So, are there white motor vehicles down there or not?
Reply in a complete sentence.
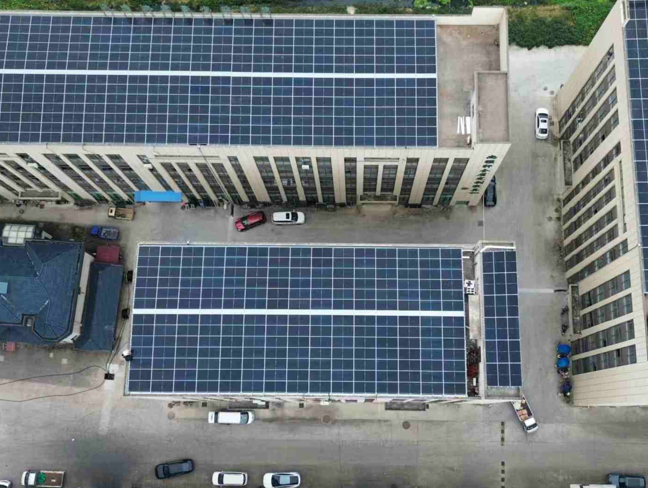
Yes, you can see a white motor vehicle in this photo.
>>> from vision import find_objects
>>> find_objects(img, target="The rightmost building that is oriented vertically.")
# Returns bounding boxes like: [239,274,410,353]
[556,0,648,408]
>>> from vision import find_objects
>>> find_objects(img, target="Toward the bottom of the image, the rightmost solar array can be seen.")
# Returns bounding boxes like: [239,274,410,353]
[483,250,521,387]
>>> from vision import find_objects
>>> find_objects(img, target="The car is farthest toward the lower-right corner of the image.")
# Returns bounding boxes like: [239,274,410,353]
[607,471,647,488]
